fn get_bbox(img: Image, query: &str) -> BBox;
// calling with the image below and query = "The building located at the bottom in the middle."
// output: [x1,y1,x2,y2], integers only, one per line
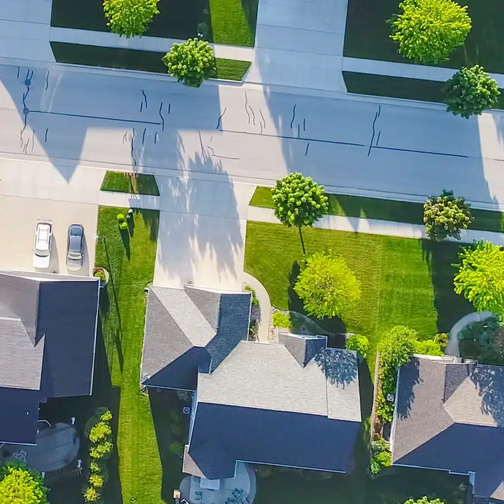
[138,283,362,480]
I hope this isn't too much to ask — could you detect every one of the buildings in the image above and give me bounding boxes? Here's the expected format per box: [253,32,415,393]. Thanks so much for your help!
[383,353,504,496]
[0,270,100,449]
[138,283,362,480]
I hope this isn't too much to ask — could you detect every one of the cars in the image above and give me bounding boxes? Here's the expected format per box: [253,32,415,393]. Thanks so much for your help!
[65,224,86,271]
[32,221,55,270]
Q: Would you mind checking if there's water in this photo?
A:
No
